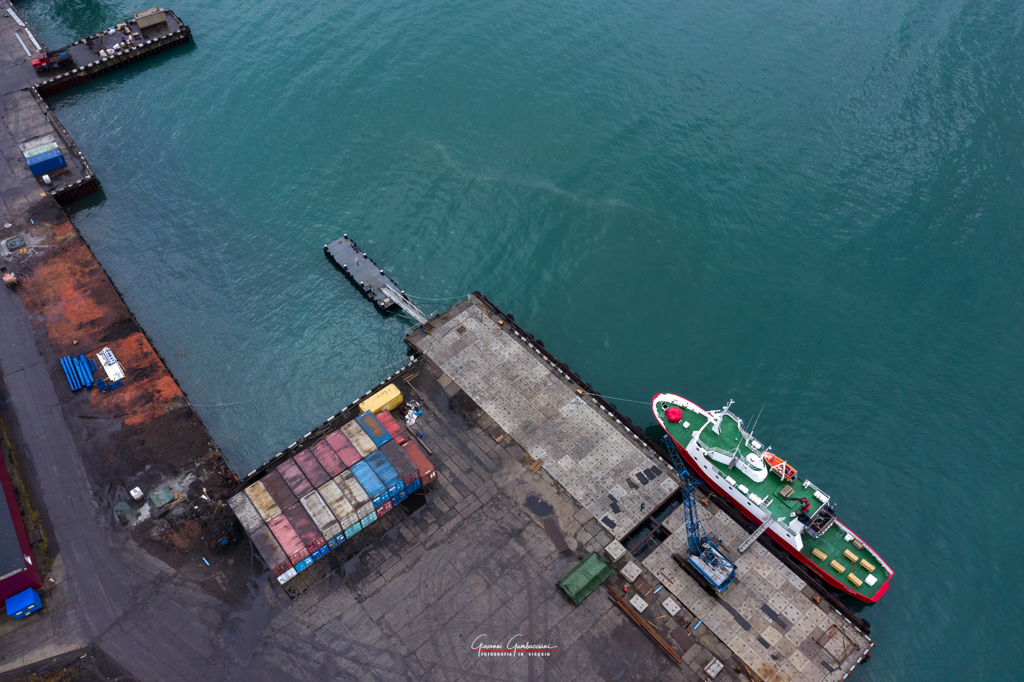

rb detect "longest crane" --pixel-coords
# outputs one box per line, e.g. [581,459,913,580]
[645,433,737,598]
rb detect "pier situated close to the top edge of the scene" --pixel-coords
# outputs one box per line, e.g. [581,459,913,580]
[34,12,189,99]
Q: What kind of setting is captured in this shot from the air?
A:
port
